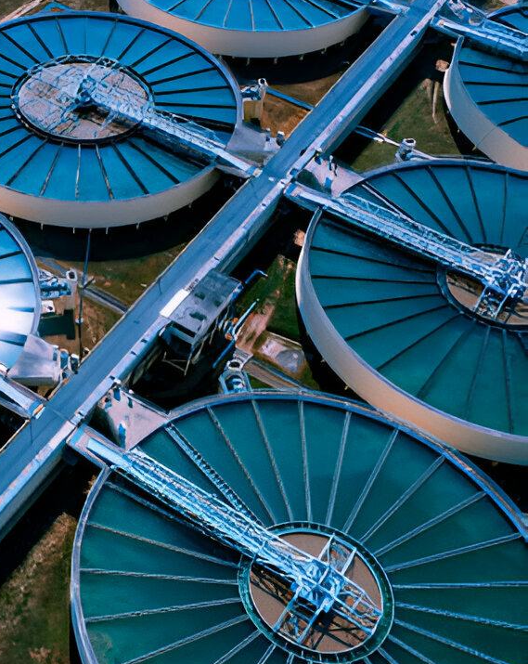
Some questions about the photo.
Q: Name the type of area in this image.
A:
industrial area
